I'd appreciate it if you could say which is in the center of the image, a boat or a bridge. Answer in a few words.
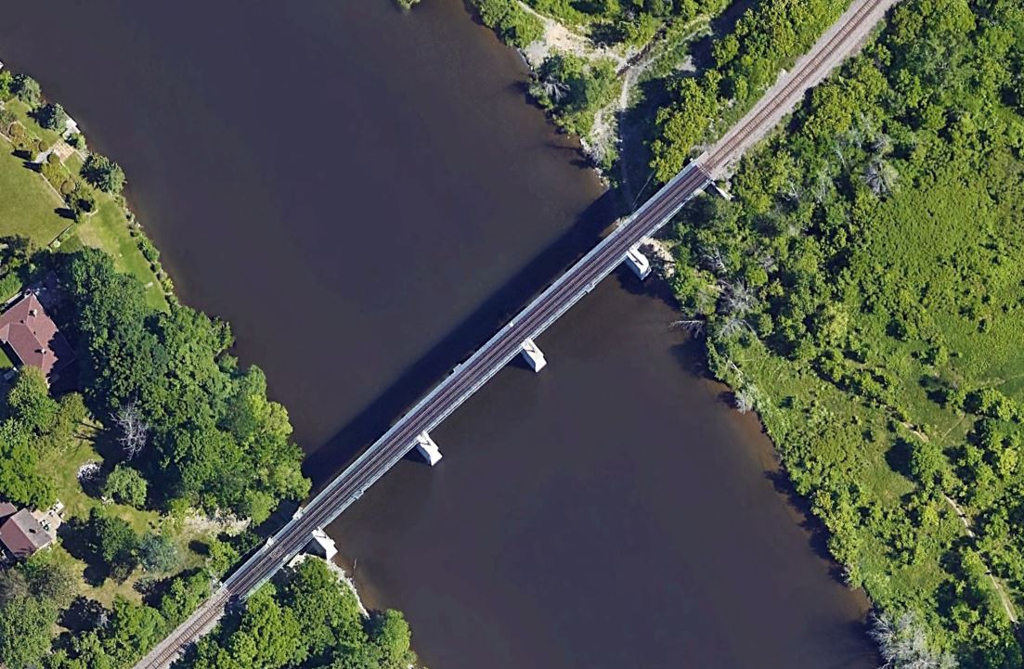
bridge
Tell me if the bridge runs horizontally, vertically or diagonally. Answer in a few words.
diagonally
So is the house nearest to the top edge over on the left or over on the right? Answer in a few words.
left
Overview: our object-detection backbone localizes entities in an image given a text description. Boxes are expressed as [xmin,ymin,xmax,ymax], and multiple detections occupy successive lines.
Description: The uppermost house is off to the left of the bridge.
[0,294,77,382]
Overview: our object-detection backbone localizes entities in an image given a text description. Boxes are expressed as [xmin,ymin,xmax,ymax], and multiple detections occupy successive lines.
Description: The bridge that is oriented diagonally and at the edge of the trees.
[210,153,729,613]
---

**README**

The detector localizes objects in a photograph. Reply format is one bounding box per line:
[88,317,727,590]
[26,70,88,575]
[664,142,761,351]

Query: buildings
[0,294,77,382]
[0,508,51,565]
